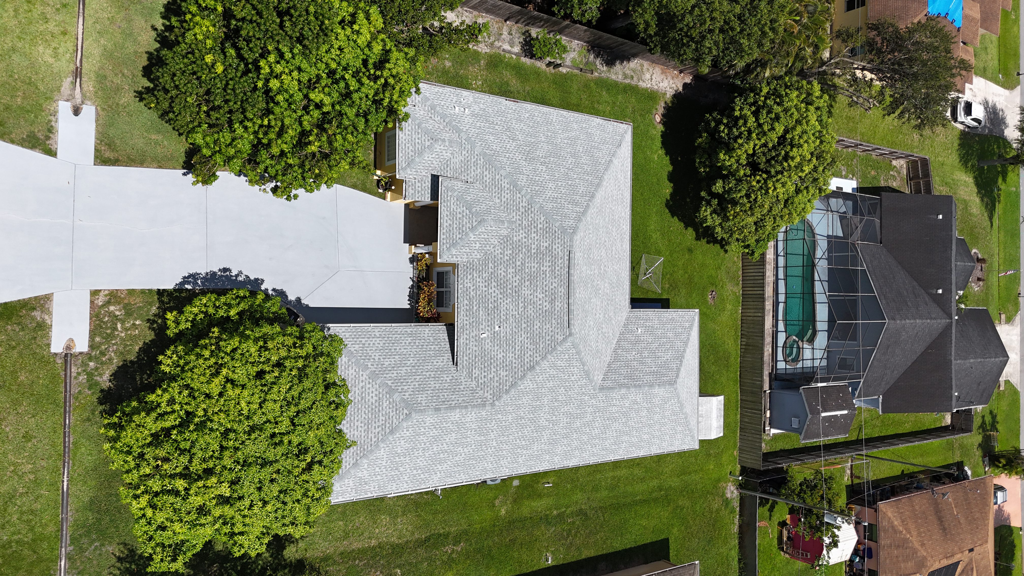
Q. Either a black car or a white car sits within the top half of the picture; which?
white car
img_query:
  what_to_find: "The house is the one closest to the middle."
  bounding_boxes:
[326,79,700,507]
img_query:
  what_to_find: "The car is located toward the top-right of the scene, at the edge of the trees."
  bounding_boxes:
[955,95,990,124]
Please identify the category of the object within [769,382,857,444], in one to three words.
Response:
shed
